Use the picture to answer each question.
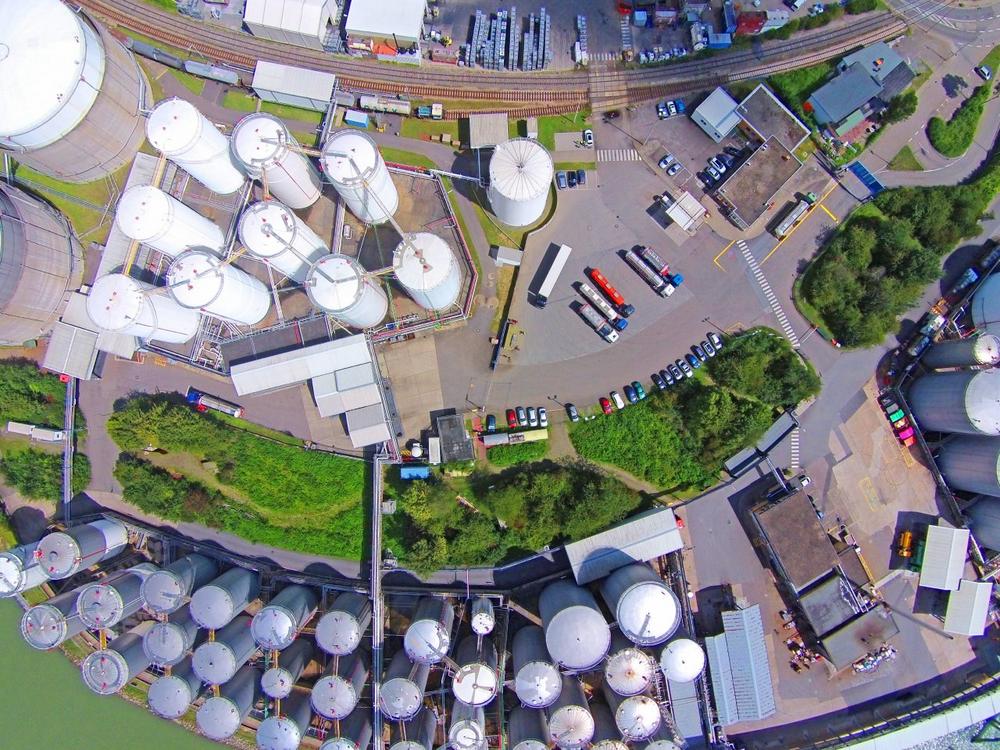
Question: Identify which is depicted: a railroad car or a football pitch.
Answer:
railroad car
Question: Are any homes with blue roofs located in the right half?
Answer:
Yes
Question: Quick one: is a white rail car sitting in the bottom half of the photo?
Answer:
No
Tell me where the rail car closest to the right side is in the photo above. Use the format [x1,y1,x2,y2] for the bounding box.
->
[418,104,443,119]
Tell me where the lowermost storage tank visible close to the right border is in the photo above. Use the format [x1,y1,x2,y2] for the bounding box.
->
[962,496,1000,551]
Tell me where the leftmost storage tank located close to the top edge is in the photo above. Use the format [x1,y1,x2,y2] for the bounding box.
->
[0,0,151,180]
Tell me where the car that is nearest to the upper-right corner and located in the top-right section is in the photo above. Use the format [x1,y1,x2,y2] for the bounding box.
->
[975,64,991,82]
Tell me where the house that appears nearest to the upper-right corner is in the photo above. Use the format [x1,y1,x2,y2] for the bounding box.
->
[802,41,915,141]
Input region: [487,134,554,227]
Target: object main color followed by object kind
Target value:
white storage tank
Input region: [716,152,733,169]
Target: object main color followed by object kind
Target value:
blue car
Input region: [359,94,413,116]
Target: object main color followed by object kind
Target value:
white rail car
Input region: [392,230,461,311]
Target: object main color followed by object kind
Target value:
white storage tank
